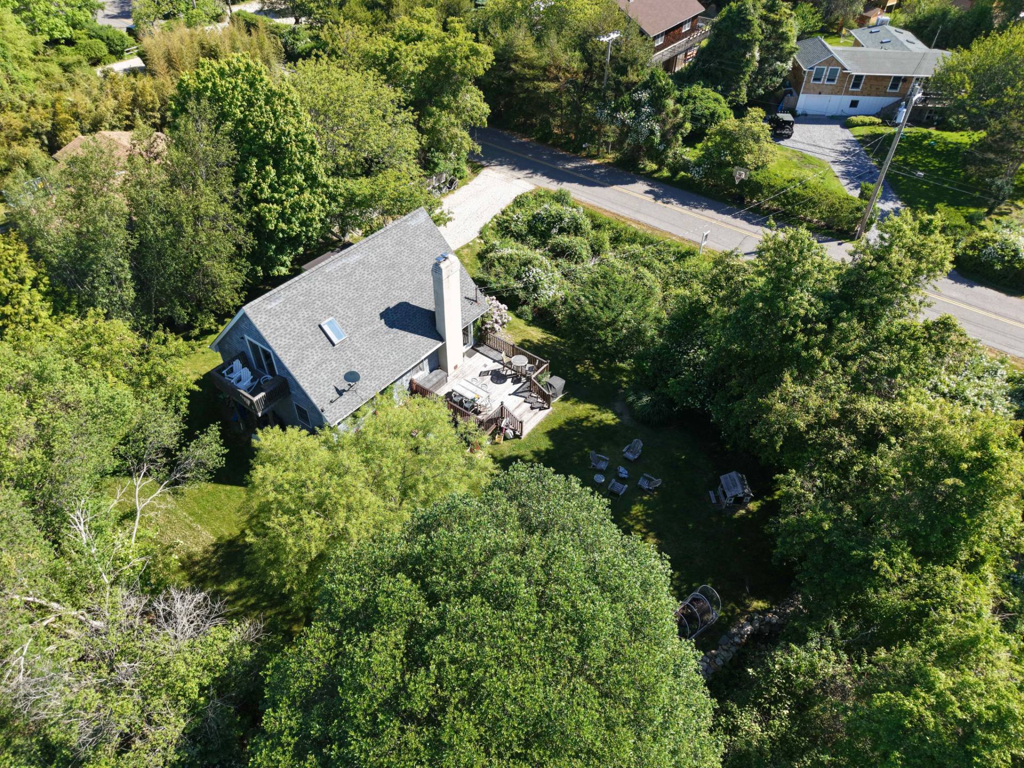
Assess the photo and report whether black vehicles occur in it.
Yes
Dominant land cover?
trees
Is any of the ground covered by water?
No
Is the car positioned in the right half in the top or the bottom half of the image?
top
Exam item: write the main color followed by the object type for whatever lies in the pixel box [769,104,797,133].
black car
